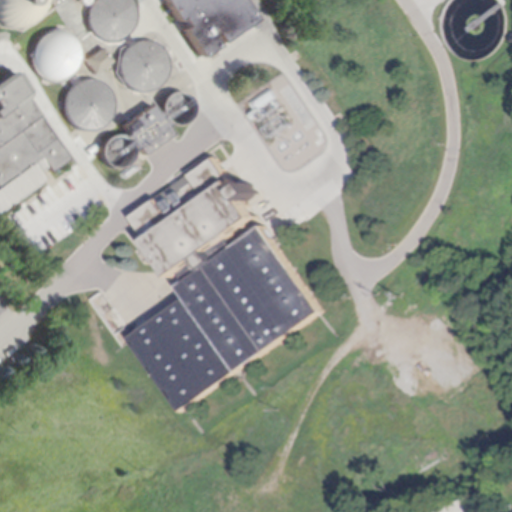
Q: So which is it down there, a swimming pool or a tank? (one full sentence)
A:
Visible in the photo is a tank.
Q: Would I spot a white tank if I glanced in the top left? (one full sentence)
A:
Yes, looking in the top left, one can make out a white tank.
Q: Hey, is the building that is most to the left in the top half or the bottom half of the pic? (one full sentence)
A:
The building that is most to the left sits in the top half of the picture.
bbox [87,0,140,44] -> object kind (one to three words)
storage tank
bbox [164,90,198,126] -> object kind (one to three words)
storage tank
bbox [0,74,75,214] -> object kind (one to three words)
building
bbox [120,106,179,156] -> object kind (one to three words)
building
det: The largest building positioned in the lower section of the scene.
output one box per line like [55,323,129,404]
[122,230,314,408]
